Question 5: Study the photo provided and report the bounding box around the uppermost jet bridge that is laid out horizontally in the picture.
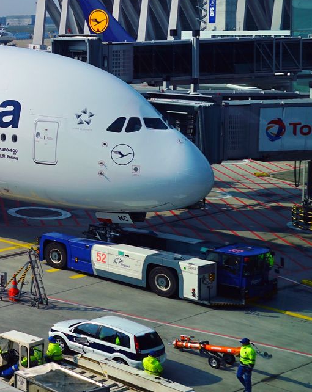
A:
[42,18,296,87]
